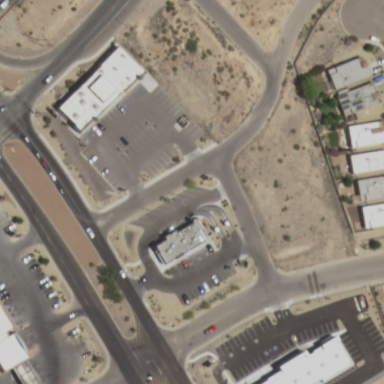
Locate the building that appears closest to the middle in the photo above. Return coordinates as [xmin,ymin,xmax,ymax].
[156,218,208,268]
